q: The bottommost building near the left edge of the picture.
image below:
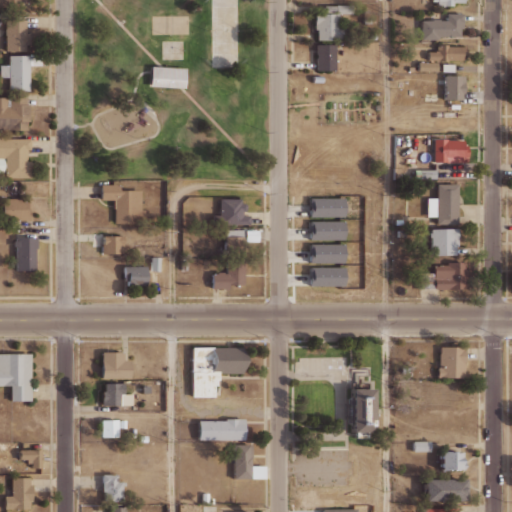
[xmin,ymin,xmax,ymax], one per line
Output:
[6,478,35,512]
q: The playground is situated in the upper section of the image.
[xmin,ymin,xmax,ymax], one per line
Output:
[94,105,158,146]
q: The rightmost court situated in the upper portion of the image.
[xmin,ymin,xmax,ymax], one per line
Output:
[212,0,238,67]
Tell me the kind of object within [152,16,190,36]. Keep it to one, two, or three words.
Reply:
sports court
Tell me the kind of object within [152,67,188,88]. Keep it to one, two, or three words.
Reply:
building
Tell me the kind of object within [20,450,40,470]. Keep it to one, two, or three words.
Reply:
house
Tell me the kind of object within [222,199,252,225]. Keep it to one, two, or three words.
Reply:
house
